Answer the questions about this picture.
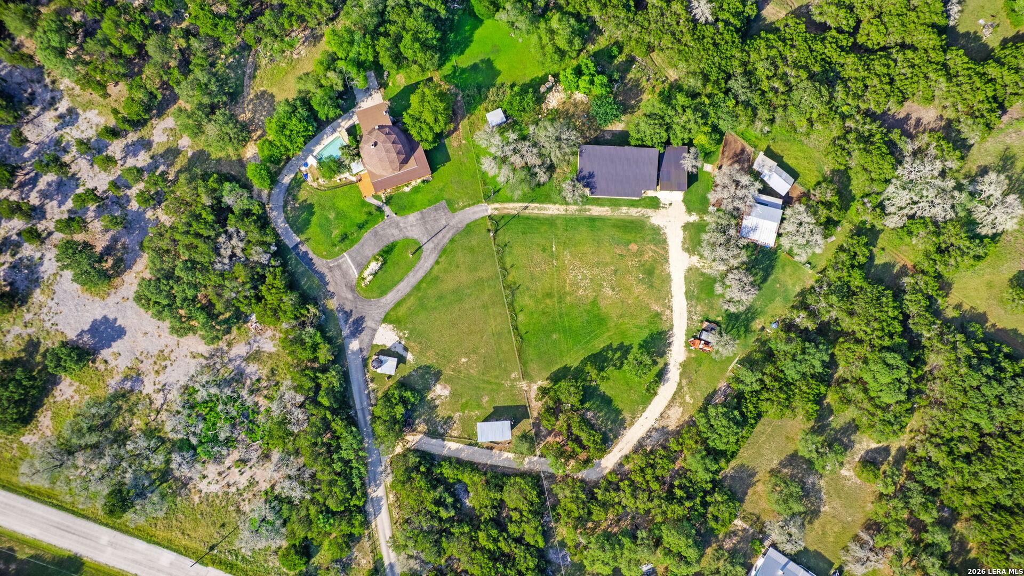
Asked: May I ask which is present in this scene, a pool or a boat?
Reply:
pool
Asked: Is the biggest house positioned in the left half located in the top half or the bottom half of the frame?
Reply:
top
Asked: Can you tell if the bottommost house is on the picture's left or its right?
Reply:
right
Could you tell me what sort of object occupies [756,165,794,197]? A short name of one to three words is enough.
shed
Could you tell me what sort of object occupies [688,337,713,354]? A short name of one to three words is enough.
work vehicle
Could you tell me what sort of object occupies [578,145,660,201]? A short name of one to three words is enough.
barn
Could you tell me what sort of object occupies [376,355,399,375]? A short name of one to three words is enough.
building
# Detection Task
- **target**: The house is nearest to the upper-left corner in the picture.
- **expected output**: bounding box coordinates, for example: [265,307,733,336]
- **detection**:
[356,102,433,196]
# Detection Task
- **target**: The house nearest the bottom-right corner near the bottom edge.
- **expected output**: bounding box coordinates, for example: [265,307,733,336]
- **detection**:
[749,536,815,576]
